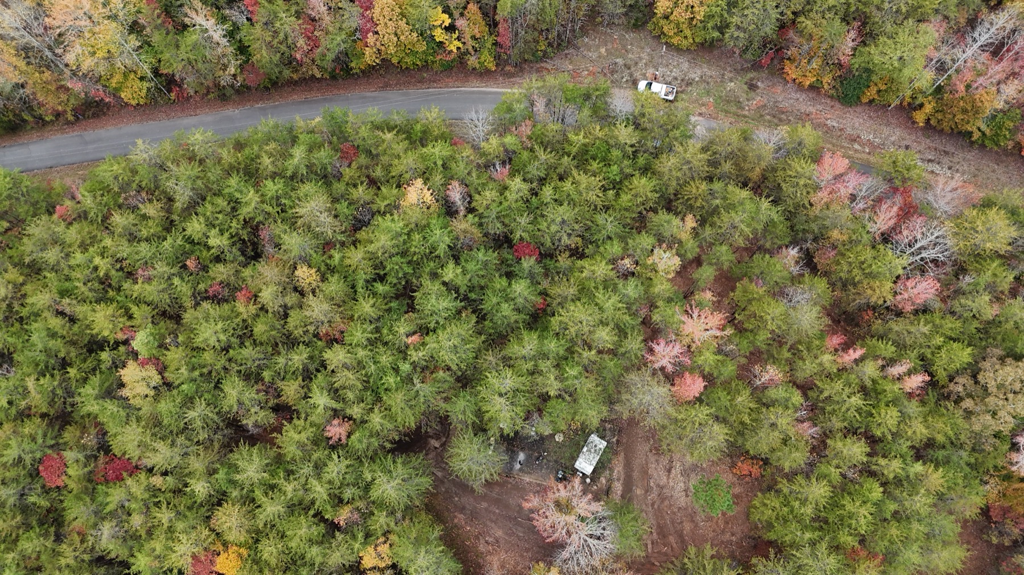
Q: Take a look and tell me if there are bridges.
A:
No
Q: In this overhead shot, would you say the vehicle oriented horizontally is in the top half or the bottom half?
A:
top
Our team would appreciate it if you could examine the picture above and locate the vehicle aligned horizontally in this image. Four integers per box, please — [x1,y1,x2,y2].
[636,79,677,99]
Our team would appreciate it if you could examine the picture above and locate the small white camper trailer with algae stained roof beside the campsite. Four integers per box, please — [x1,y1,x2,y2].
[574,434,606,478]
